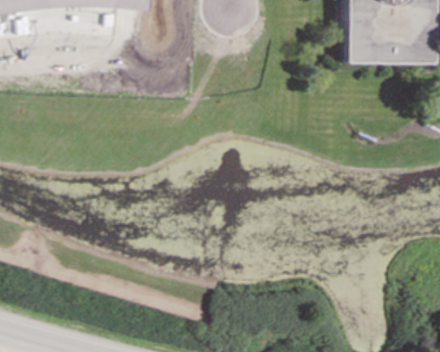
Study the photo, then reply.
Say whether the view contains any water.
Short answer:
Yes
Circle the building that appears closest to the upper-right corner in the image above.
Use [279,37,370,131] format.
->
[338,0,438,67]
